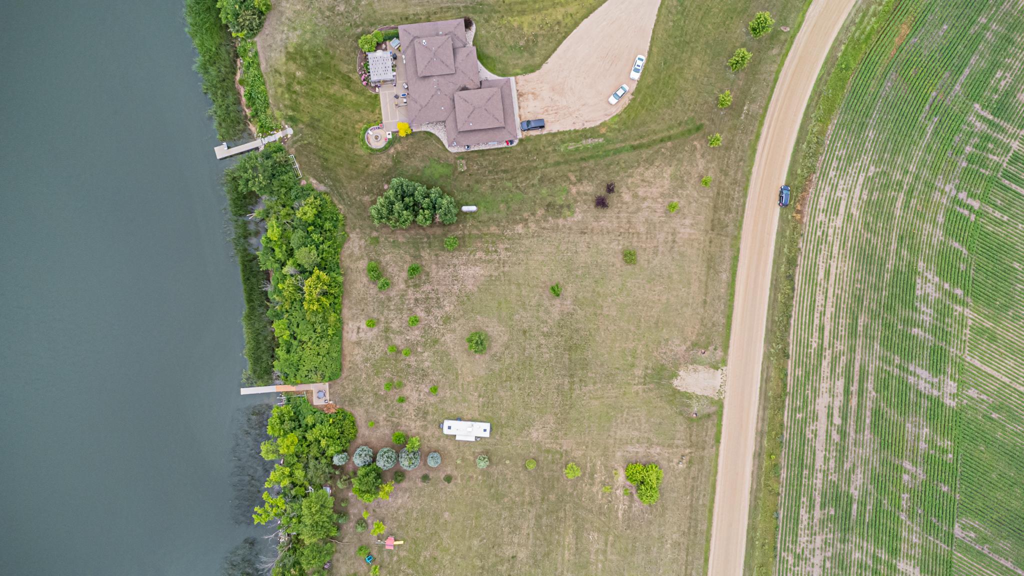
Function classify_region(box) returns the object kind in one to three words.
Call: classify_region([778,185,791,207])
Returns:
vehicle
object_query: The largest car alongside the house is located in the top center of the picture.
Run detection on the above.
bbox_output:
[520,118,545,132]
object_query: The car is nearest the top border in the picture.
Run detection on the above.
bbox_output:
[630,55,644,80]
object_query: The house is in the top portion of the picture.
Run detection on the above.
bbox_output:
[398,18,517,147]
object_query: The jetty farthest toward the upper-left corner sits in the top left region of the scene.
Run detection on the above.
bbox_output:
[214,139,263,159]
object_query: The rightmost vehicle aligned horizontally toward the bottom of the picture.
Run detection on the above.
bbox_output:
[439,414,492,441]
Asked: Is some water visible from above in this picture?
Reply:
Yes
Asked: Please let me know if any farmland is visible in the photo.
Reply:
Yes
